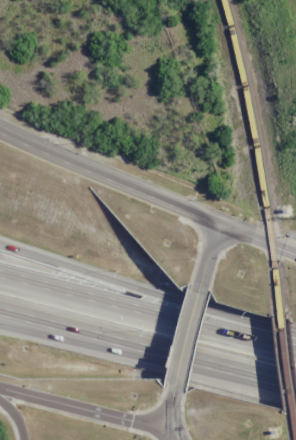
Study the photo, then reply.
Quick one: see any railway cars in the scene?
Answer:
Yes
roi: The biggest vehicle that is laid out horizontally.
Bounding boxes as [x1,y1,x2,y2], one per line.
[216,328,256,342]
